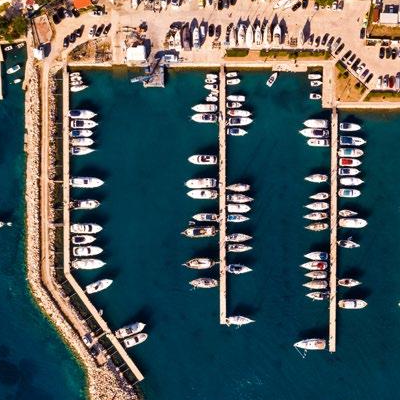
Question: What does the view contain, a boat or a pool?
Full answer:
Looking from above, you can make out a boat.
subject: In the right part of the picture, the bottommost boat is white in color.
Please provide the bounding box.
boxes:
[293,338,326,357]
